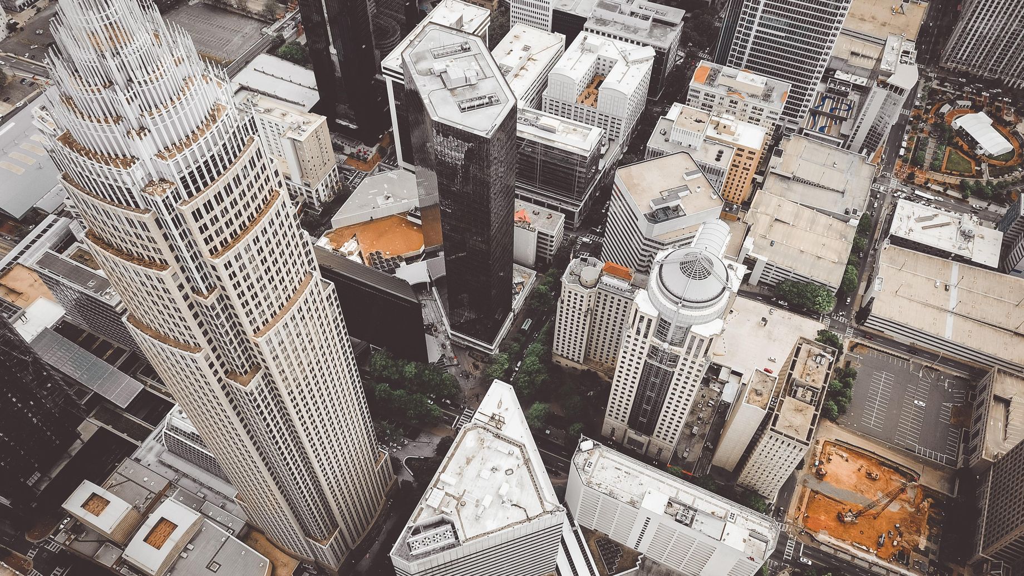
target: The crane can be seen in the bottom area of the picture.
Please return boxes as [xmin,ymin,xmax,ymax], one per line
[835,479,916,523]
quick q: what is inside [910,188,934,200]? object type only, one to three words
vehicle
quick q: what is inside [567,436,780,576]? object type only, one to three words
building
